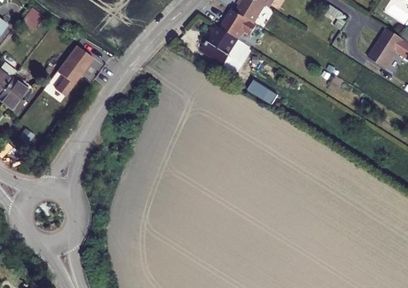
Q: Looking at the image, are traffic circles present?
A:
Yes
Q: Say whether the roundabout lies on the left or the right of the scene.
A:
left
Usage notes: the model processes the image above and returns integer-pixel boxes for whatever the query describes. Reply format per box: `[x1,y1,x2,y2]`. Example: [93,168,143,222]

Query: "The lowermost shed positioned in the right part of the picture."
[248,80,278,105]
